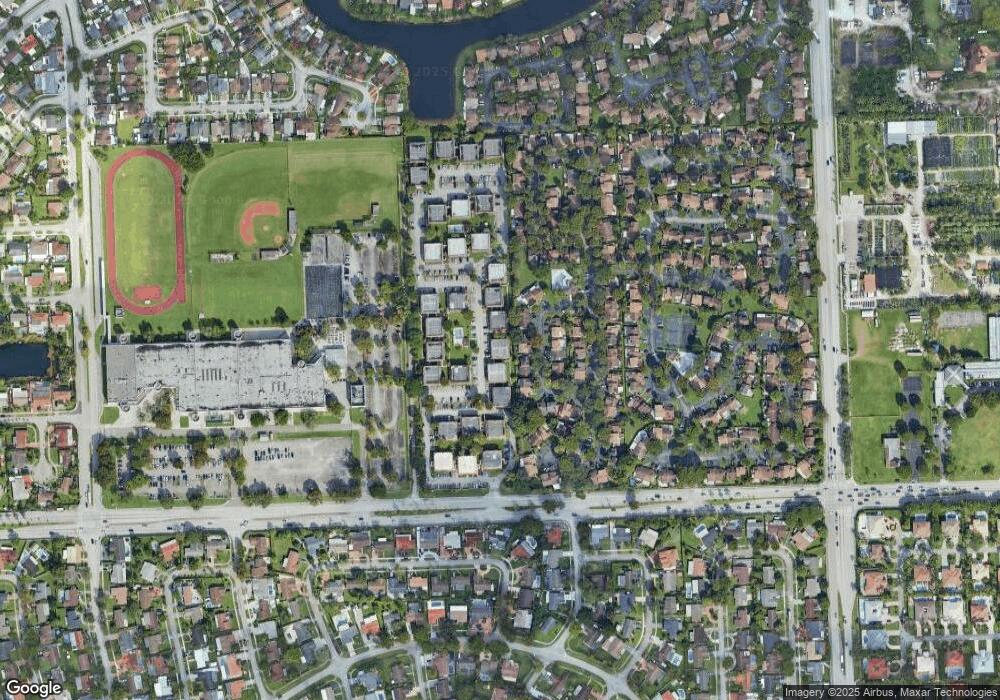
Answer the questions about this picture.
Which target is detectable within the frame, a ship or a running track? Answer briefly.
running track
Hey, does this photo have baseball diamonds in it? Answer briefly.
Yes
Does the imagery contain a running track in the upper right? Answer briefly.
No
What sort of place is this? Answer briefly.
residential area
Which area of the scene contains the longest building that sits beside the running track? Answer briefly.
left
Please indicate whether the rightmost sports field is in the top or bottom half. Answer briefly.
top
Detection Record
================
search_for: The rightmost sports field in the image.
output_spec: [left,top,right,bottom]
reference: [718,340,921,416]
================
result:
[288,142,397,231]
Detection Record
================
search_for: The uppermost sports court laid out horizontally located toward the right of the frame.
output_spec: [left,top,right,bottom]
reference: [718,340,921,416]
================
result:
[940,311,987,328]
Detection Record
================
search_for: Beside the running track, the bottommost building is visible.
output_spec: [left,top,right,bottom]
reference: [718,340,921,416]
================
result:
[106,329,344,418]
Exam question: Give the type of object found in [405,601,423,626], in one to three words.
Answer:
house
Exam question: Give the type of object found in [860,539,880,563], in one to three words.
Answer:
house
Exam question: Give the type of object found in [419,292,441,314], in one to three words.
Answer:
building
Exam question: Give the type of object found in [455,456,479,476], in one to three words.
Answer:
building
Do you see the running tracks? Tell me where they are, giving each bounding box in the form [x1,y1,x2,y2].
[105,148,188,315]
